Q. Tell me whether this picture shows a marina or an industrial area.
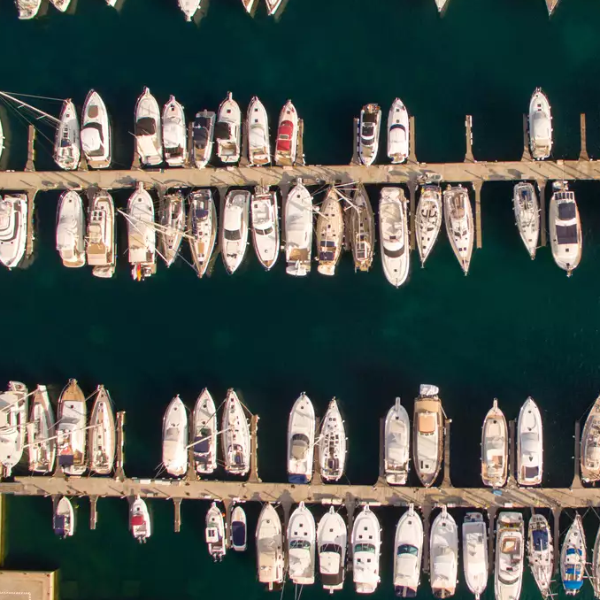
marina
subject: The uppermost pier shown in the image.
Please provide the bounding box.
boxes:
[0,113,600,258]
